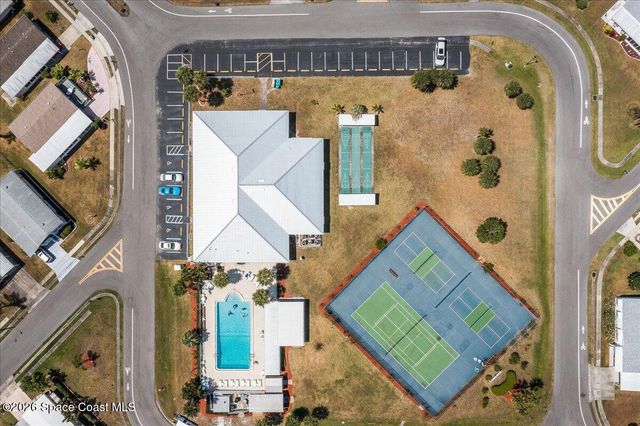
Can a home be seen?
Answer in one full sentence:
Yes, the picture does show a home.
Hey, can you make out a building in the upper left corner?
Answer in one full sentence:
Yes, a building appears in the upper left corner.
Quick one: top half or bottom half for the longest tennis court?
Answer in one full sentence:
The longest tennis court sits in the bottom half of the picture.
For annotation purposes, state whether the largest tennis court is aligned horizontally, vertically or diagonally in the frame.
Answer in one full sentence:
Seen from above, the largest tennis court lies diagonally.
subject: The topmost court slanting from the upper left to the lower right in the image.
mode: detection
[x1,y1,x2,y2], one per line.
[394,232,455,294]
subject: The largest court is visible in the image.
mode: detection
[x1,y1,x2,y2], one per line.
[351,281,460,389]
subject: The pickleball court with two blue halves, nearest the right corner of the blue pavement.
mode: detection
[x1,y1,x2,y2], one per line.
[449,287,511,348]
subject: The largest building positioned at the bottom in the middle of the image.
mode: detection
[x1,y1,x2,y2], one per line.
[264,299,305,375]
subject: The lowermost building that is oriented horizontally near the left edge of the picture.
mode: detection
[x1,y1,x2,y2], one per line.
[14,391,87,426]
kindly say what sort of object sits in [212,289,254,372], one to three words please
swimming pool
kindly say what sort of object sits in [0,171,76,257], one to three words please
house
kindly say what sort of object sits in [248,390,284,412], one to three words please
shed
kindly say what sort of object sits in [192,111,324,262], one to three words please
building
